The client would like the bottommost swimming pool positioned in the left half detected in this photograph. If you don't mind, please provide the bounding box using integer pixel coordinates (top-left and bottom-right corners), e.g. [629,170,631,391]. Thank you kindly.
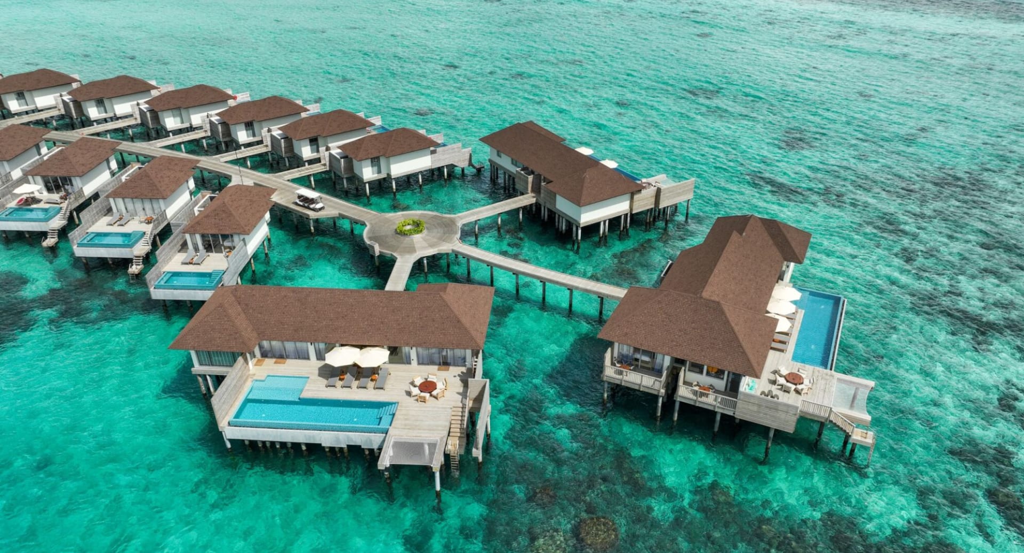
[228,376,398,436]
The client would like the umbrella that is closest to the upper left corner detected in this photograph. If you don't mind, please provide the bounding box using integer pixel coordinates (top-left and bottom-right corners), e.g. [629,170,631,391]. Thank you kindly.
[16,182,43,204]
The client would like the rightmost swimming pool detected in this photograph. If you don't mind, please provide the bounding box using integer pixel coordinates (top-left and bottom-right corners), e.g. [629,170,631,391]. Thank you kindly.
[789,286,841,370]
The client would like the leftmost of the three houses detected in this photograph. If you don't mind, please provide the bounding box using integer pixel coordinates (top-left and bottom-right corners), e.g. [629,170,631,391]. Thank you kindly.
[168,284,495,504]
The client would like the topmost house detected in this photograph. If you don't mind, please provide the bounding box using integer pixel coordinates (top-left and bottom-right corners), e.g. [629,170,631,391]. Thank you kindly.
[481,122,695,250]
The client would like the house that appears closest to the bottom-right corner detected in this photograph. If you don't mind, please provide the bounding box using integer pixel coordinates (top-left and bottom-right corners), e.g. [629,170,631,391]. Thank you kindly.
[597,217,875,470]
